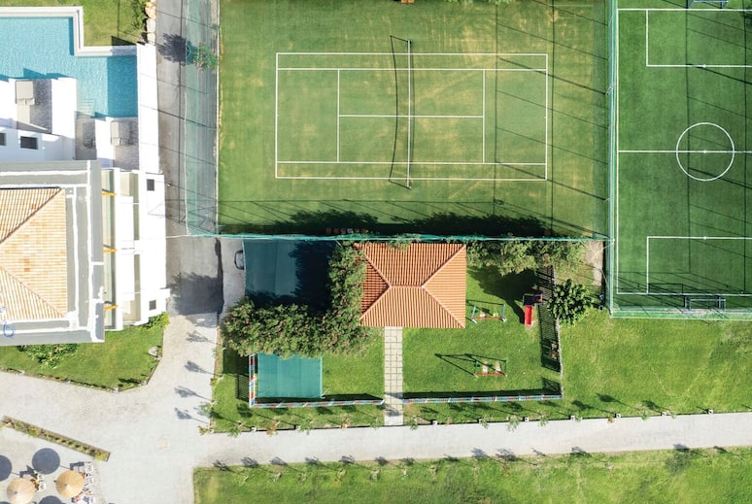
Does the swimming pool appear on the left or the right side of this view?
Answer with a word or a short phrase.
left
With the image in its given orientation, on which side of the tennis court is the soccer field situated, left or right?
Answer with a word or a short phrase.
right of it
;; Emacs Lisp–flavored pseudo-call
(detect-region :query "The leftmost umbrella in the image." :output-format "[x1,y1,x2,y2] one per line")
[9,476,38,504]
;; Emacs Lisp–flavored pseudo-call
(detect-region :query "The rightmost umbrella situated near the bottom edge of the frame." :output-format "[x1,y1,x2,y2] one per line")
[58,468,86,497]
